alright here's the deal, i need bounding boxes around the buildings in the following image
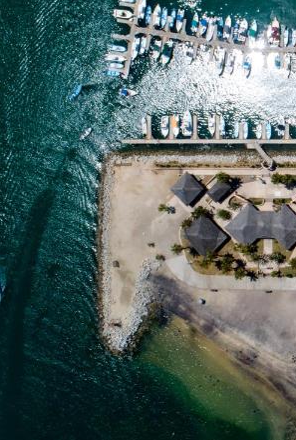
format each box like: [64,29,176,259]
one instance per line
[184,216,230,256]
[225,203,296,249]
[170,172,205,206]
[207,181,233,202]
